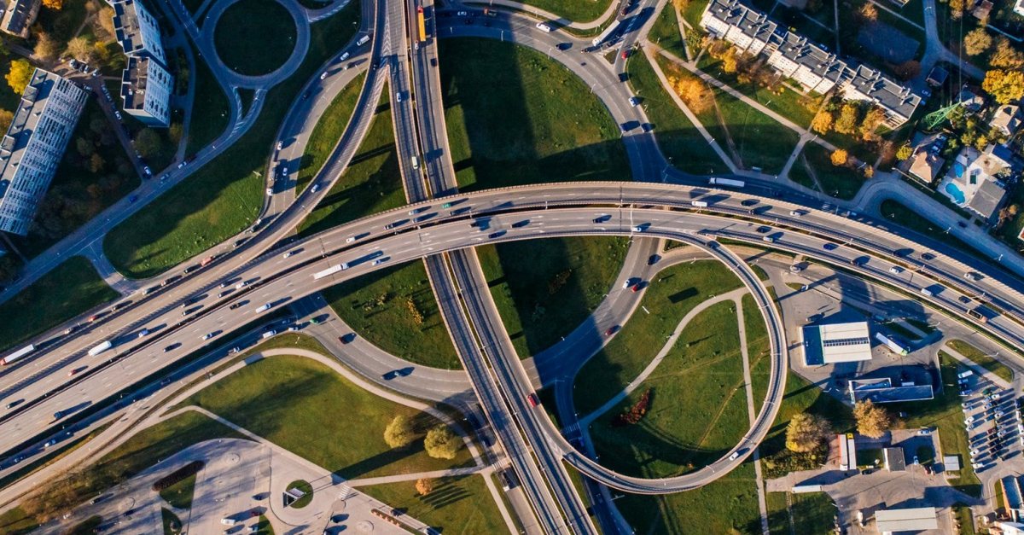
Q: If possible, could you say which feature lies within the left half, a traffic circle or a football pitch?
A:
traffic circle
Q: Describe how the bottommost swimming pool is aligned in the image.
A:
at an angle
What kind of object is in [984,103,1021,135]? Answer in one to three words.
house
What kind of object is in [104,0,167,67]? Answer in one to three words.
building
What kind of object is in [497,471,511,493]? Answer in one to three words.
vehicle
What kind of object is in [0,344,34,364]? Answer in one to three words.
vehicle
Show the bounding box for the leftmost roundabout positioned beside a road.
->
[200,0,311,88]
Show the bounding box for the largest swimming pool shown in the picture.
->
[946,182,966,204]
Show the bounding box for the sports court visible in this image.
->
[858,20,919,61]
